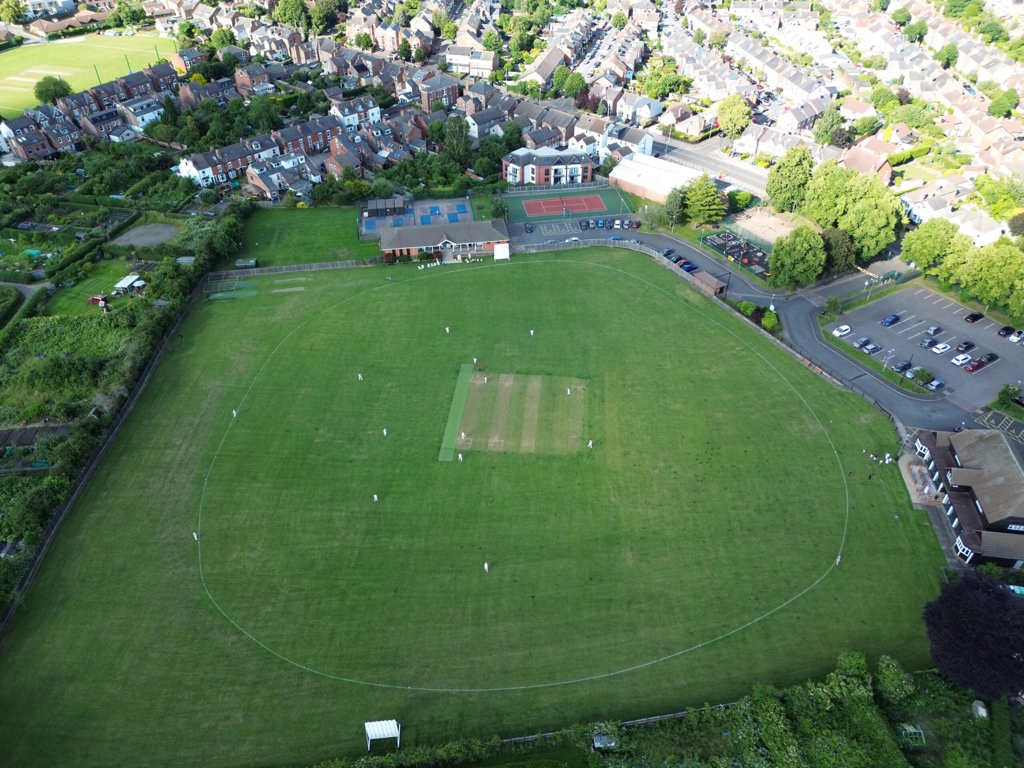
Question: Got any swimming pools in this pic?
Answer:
No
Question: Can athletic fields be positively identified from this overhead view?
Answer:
Yes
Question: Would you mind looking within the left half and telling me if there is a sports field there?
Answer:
Yes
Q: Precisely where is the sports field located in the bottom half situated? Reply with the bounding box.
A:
[0,206,944,768]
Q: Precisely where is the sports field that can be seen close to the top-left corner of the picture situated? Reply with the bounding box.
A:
[0,34,177,124]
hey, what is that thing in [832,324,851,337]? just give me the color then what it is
white vehicle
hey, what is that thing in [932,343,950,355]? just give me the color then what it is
white vehicle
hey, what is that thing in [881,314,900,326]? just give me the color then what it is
blue vehicle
